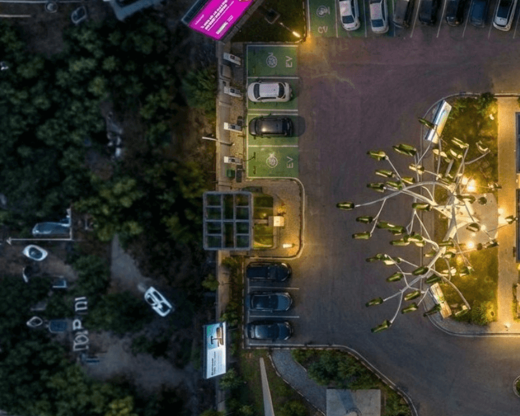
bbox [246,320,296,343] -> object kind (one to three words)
car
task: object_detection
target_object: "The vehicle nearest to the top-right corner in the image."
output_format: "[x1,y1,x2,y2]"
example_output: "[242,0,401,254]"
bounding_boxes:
[492,0,518,32]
